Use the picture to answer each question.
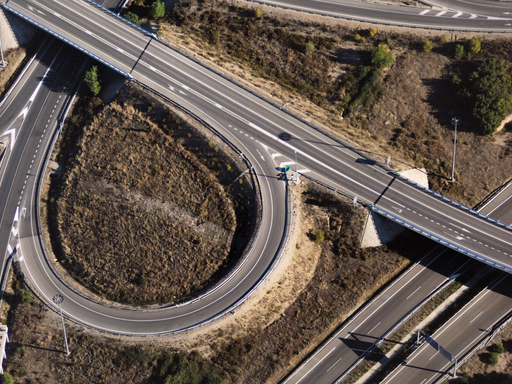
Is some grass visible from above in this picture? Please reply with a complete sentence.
Yes, there's grass in this view.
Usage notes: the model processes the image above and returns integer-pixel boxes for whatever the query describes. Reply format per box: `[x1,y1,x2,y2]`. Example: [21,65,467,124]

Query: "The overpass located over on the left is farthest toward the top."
[2,0,159,75]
